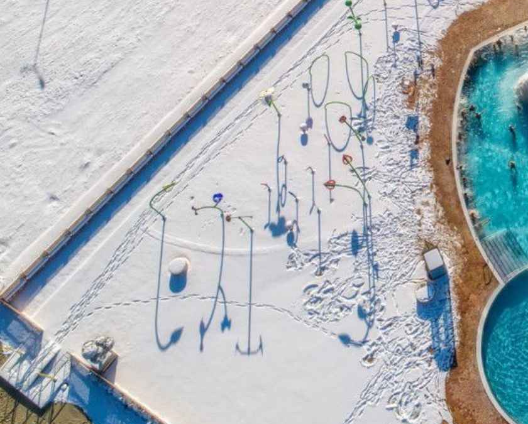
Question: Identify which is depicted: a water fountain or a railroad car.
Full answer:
The image shows a water fountain.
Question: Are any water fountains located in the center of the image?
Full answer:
Yes, you'll find a water fountain in the center of the image.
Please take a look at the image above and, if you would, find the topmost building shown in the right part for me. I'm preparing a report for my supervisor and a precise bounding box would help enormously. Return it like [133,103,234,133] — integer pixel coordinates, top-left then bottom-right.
[424,249,447,282]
